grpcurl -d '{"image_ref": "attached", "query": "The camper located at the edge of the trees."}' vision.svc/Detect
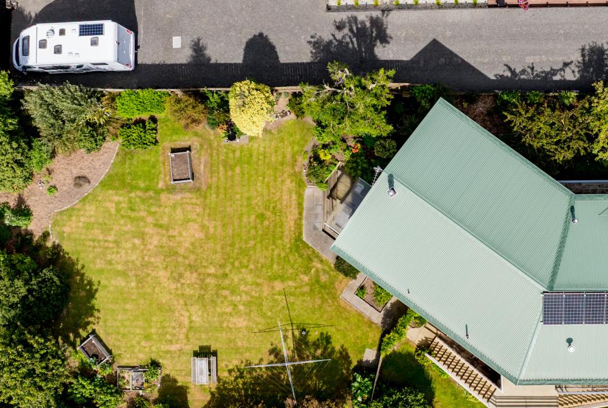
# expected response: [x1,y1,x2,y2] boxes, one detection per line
[13,18,141,70]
